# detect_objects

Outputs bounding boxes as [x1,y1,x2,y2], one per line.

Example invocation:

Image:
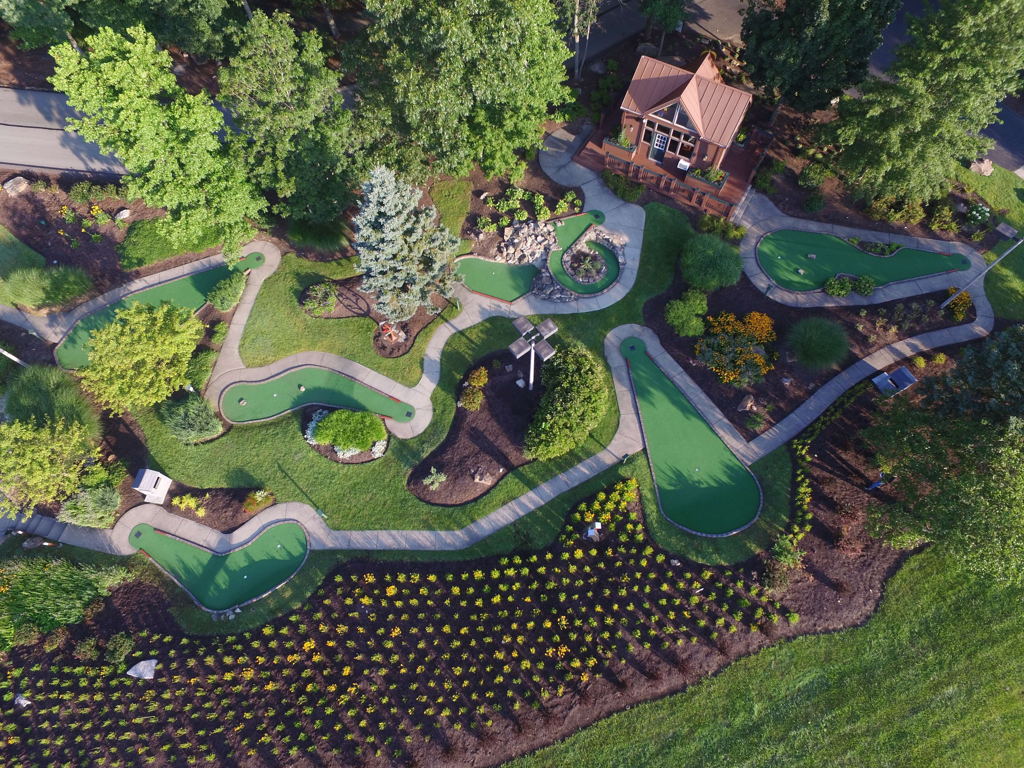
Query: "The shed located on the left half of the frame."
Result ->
[125,468,172,507]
